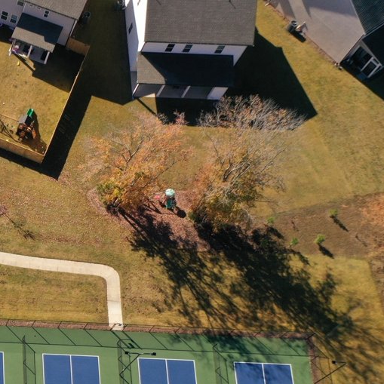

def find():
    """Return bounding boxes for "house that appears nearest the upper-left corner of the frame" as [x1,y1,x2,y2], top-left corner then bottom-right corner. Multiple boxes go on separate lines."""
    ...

[0,0,87,66]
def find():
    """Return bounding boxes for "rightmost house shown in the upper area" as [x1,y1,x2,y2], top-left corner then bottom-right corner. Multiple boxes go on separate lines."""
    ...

[264,0,384,87]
